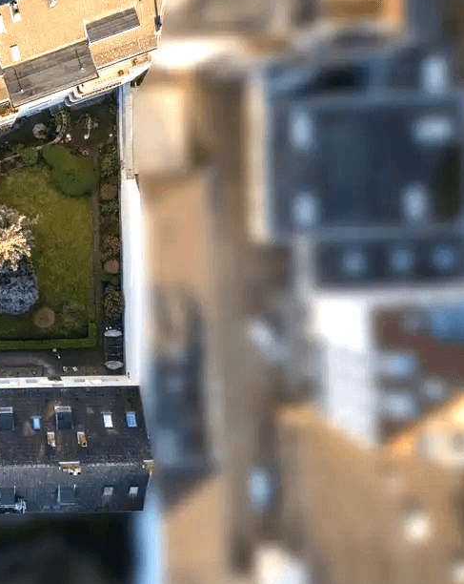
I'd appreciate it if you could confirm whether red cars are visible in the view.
No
